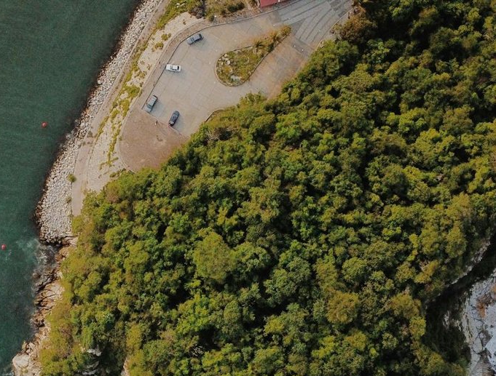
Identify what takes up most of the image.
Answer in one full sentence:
The largest share of the image is taken up by trees.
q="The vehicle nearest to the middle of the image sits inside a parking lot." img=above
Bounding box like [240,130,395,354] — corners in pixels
[168,109,181,126]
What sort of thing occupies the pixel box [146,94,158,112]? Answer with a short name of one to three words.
vehicle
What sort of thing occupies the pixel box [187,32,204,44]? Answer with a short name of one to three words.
vehicle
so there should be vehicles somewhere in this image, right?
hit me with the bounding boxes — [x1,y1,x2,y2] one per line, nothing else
[165,62,182,72]
[168,109,181,126]
[146,94,158,112]
[187,32,204,44]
